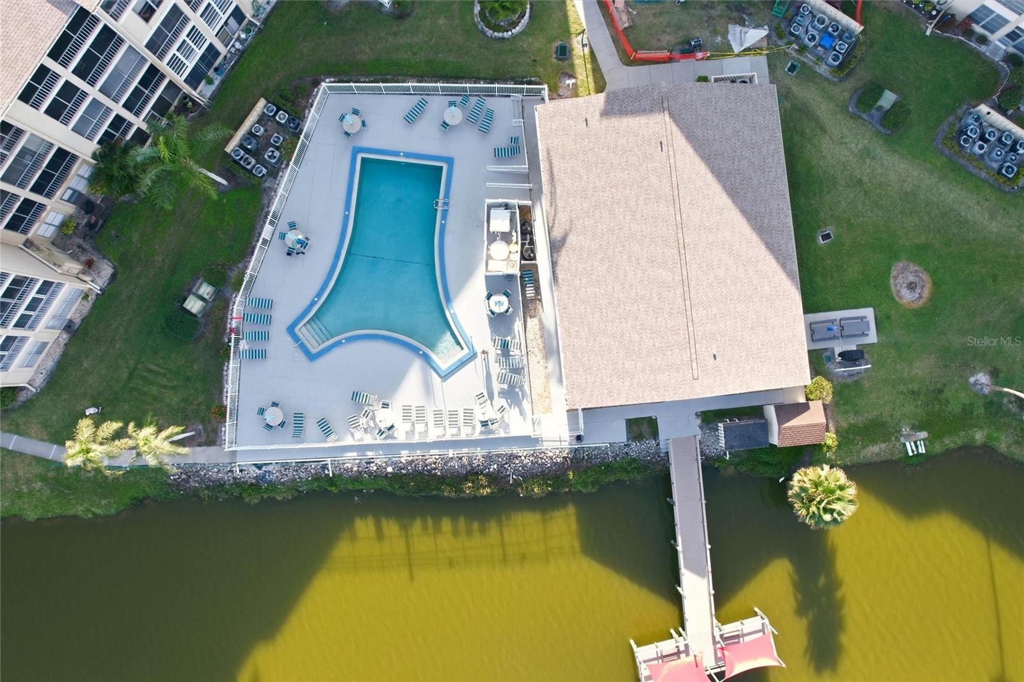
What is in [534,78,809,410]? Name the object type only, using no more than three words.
building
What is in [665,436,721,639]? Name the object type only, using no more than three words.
pier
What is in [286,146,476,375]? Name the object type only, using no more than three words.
swimming pool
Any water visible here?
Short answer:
Yes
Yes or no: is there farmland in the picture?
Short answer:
No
